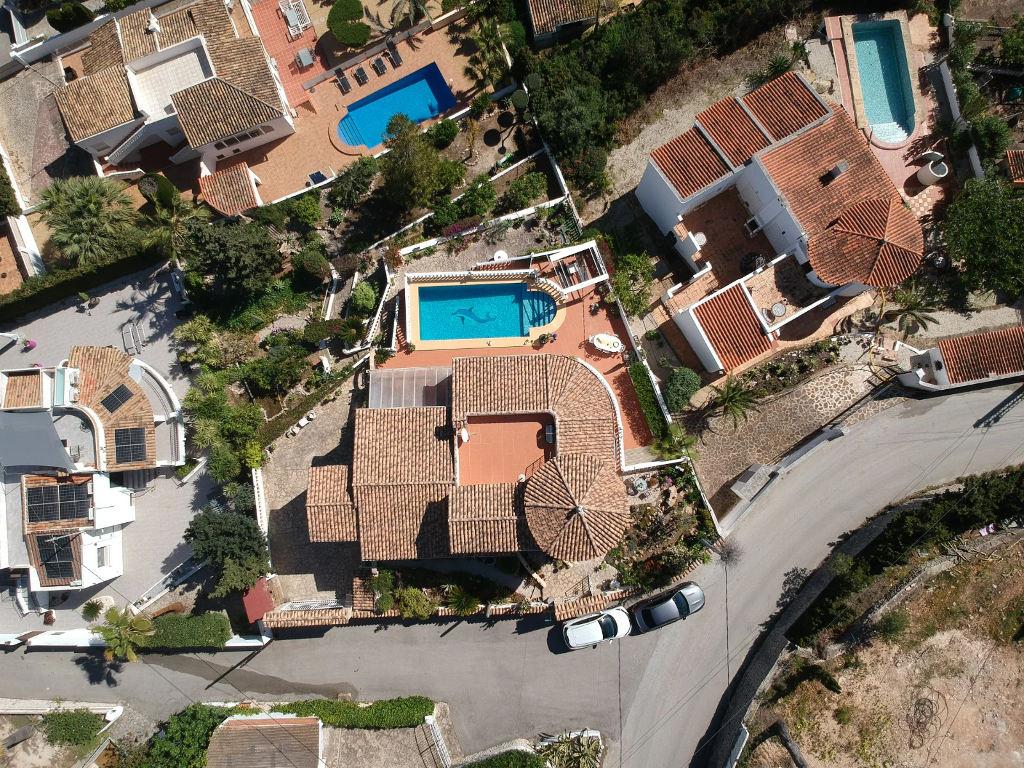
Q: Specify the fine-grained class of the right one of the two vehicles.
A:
car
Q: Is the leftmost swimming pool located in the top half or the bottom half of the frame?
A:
top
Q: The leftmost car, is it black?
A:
No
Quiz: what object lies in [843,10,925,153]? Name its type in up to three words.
swimming pool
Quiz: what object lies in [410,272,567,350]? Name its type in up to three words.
swimming pool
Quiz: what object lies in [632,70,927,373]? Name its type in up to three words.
house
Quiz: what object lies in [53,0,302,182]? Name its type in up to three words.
house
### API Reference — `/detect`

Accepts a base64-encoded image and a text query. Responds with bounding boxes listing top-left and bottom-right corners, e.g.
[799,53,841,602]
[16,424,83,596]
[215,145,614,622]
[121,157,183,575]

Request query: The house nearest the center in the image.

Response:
[302,355,633,564]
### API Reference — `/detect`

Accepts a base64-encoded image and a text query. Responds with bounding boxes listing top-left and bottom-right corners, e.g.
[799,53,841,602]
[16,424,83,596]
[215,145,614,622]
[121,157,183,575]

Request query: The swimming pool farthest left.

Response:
[326,54,465,161]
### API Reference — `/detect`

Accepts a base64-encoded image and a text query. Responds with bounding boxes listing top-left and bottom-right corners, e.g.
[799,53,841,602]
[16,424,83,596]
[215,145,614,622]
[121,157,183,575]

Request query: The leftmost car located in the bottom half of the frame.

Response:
[562,603,633,650]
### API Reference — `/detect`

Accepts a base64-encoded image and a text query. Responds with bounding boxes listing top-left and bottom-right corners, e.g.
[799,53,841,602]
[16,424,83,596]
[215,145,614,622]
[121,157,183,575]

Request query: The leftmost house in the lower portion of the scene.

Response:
[0,345,192,594]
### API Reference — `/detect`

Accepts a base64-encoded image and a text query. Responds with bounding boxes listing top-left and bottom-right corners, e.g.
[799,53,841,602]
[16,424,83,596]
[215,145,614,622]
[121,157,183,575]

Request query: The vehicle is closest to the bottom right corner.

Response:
[630,582,707,632]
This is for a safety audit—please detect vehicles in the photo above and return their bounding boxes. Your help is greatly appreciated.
[630,582,707,632]
[562,603,633,650]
